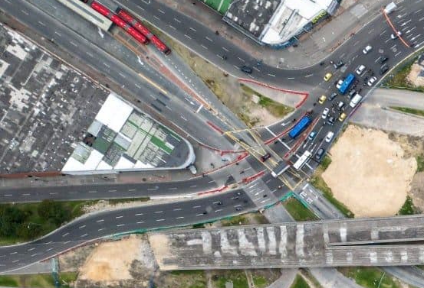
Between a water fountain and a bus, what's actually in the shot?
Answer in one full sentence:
I can see a bus in this picture.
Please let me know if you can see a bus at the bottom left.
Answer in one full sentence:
No, there is no bus at the bottom left.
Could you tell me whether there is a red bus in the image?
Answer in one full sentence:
Yes, there's a red bus down there.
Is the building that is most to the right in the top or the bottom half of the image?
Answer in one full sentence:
The building that is most to the right sits in the top half of the picture.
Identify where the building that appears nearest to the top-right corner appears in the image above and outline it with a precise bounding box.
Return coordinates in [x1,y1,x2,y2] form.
[261,0,357,53]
